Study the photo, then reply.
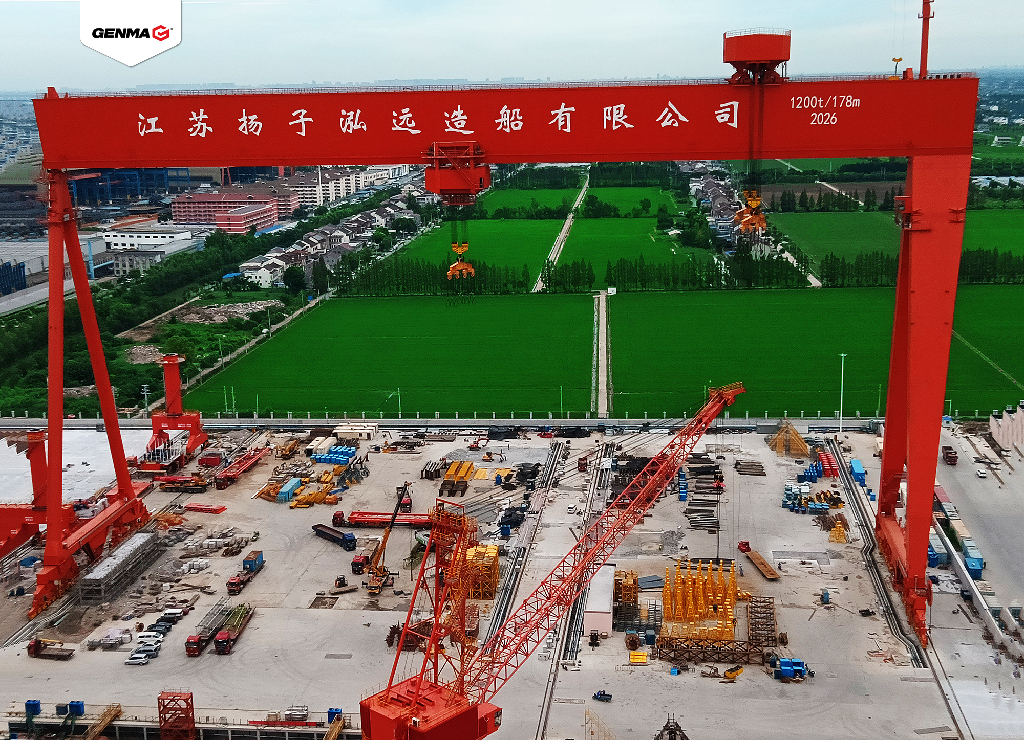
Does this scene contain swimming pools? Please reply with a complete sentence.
No, there isn't any swimming pool down there.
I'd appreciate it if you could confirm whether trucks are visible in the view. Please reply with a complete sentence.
Yes, the picture does show a truck.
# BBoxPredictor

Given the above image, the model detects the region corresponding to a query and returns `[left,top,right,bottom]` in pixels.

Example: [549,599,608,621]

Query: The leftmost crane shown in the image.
[0,440,90,577]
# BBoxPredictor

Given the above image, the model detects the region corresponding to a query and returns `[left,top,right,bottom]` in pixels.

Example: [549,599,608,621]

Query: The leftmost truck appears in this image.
[25,633,76,659]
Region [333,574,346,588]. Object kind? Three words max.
vehicle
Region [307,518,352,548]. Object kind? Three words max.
truck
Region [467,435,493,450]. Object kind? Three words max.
work vehicle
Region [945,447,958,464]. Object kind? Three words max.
vehicle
